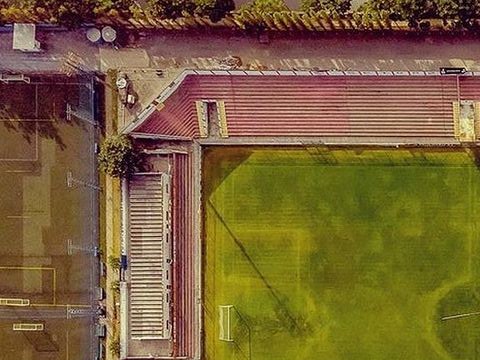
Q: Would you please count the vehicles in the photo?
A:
none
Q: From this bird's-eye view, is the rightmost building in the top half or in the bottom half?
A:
bottom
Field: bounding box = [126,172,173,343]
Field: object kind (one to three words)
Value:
building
